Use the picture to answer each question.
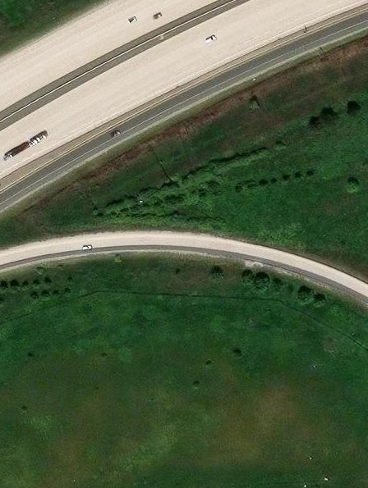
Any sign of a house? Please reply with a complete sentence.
No, there isn't any house down there.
